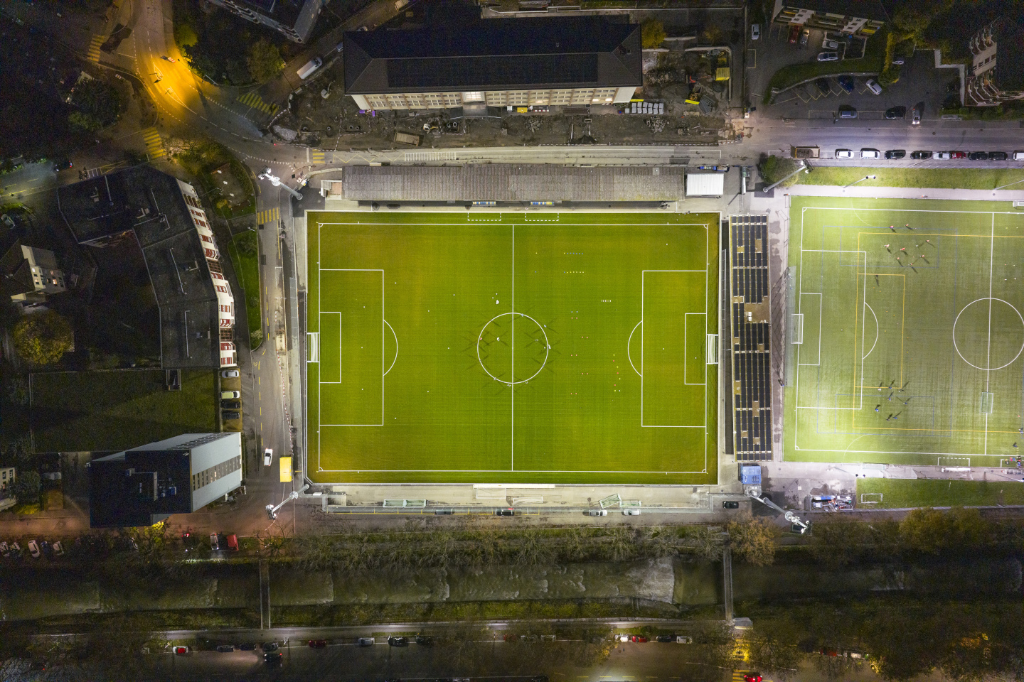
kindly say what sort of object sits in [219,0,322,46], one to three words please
house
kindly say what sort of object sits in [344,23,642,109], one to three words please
building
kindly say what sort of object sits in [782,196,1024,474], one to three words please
soccer field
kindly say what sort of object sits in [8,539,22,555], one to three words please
car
